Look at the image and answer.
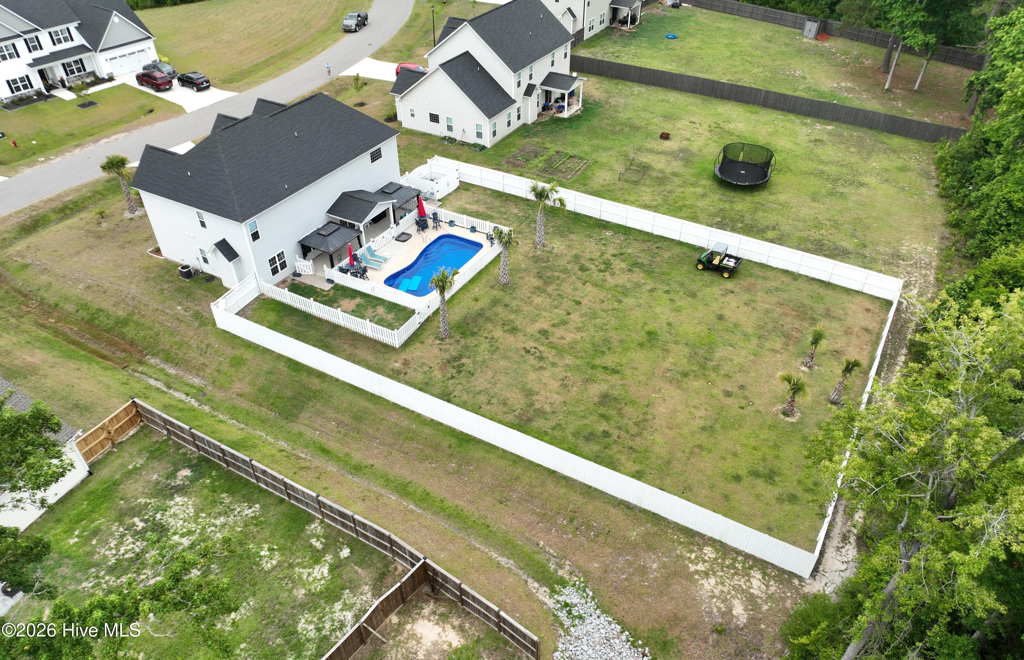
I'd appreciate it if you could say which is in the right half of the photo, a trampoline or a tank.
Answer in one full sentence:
It is a trampoline that can be seen in the right half of the photo.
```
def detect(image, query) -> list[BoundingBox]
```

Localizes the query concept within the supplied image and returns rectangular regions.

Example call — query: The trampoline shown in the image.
[716,145,770,193]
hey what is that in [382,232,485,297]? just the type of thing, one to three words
swimming pool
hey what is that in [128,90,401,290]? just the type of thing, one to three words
house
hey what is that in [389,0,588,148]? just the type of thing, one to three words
house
